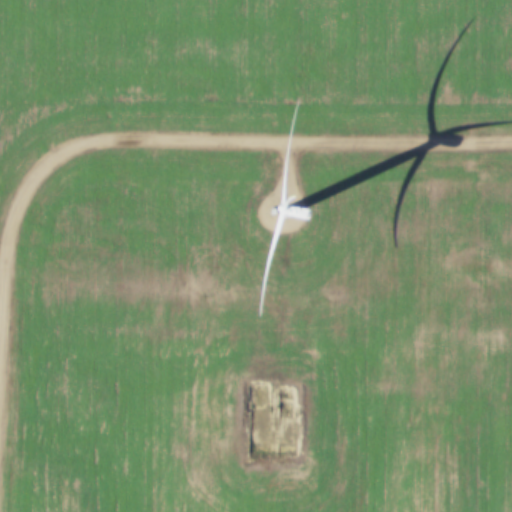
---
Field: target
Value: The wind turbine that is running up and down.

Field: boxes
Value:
[260,99,312,315]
